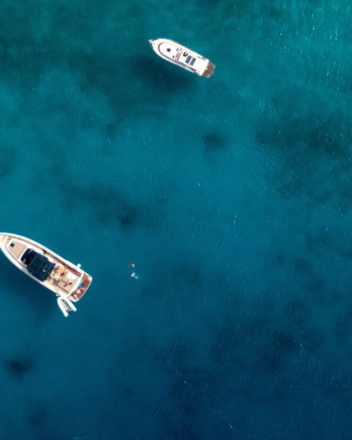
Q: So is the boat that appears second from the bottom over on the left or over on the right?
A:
left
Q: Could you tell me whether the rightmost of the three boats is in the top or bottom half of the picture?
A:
top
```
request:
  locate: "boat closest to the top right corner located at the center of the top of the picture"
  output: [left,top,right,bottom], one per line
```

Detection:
[150,38,215,78]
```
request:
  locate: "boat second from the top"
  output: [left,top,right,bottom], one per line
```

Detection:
[0,233,93,302]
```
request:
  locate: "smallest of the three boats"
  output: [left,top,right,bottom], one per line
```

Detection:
[60,296,74,315]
